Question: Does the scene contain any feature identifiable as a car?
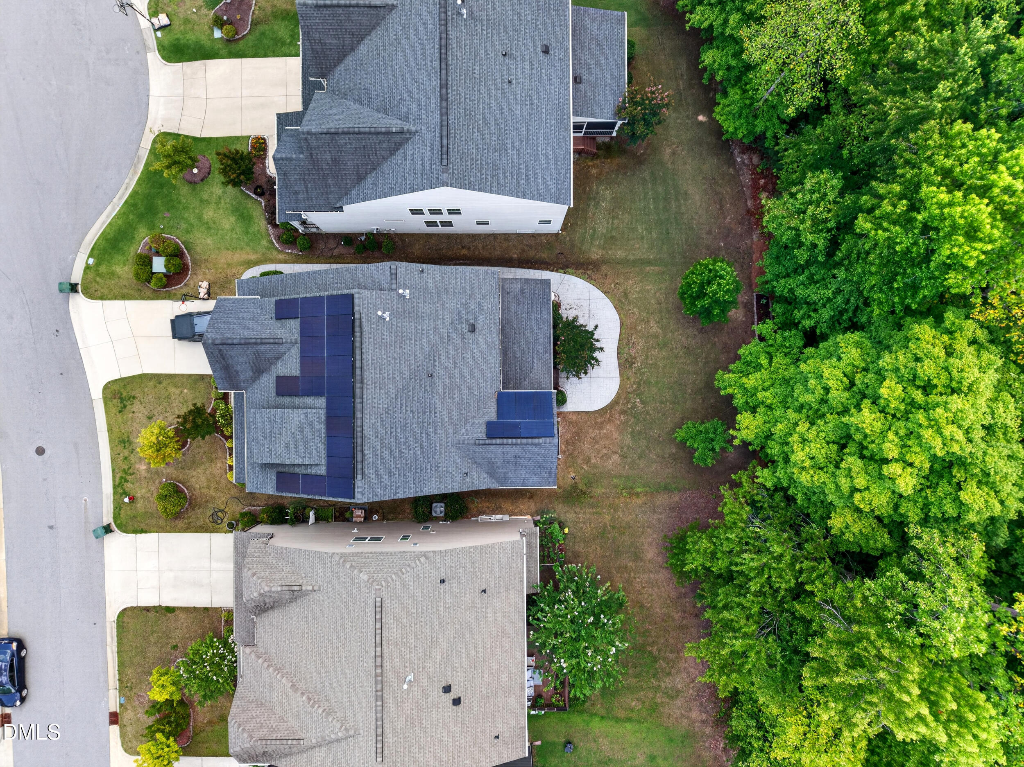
Yes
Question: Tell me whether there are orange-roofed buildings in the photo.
No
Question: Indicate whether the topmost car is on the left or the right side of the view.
left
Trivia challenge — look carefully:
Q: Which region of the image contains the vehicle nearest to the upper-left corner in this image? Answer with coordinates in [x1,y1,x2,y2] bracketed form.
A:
[170,312,212,345]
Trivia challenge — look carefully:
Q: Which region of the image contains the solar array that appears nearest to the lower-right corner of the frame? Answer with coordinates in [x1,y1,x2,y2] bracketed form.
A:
[485,391,556,437]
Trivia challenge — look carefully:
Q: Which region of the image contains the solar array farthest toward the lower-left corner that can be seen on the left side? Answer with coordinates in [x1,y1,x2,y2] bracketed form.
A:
[273,294,354,499]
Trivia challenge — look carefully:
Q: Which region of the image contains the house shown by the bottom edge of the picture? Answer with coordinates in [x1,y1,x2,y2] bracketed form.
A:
[227,521,541,767]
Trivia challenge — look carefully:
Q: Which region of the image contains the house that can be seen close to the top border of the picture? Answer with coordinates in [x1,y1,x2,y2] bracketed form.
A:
[273,0,627,241]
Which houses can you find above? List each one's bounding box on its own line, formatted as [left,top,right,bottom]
[202,261,558,502]
[273,0,627,241]
[227,521,541,767]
